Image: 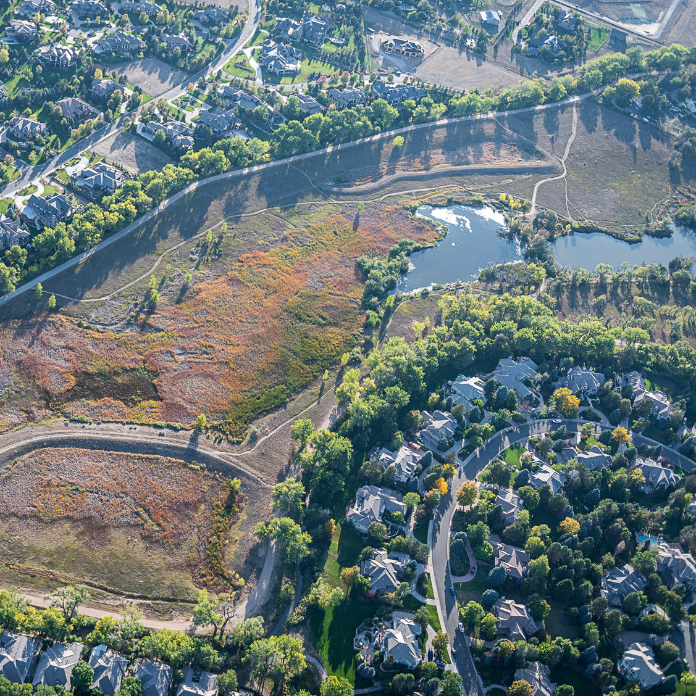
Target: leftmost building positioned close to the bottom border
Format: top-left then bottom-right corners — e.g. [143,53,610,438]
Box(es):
[0,639,37,688]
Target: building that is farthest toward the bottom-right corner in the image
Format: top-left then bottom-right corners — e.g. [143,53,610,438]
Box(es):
[616,647,665,695]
